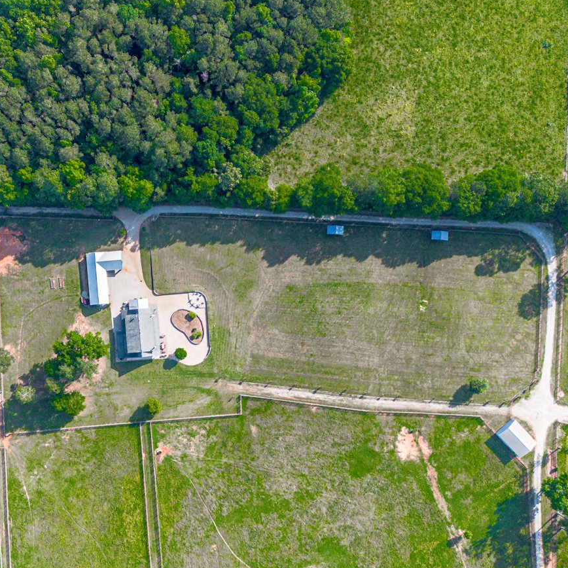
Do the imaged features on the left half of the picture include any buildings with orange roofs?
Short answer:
No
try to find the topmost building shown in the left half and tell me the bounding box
[87,250,123,304]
